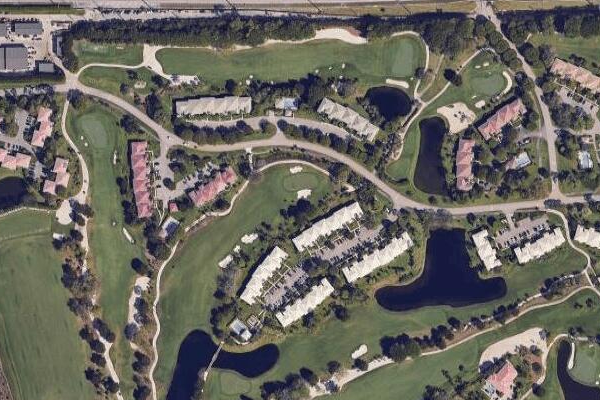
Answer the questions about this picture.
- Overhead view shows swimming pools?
Yes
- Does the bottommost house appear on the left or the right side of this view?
right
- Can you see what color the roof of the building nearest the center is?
white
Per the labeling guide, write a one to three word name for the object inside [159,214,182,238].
swimming pool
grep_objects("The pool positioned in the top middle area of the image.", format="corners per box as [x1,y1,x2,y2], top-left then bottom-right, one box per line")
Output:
[282,98,298,110]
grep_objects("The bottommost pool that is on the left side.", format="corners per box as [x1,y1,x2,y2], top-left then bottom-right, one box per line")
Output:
[229,317,246,337]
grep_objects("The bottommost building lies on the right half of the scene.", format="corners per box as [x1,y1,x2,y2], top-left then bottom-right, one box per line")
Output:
[485,360,523,398]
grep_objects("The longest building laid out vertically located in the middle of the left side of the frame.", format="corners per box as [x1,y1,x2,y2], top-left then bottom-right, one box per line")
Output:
[130,140,153,218]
